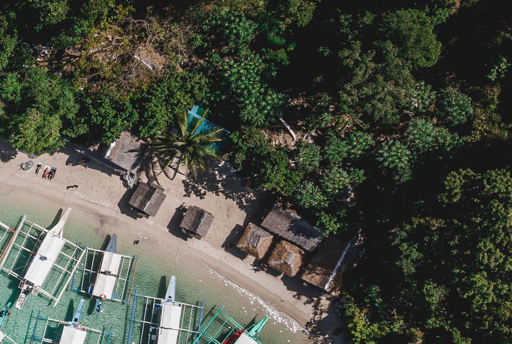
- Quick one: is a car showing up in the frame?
No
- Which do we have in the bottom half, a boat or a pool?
boat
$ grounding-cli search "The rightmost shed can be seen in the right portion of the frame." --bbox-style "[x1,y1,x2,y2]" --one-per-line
[295,233,365,298]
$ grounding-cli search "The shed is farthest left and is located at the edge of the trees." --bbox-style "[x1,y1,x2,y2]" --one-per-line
[86,134,143,172]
